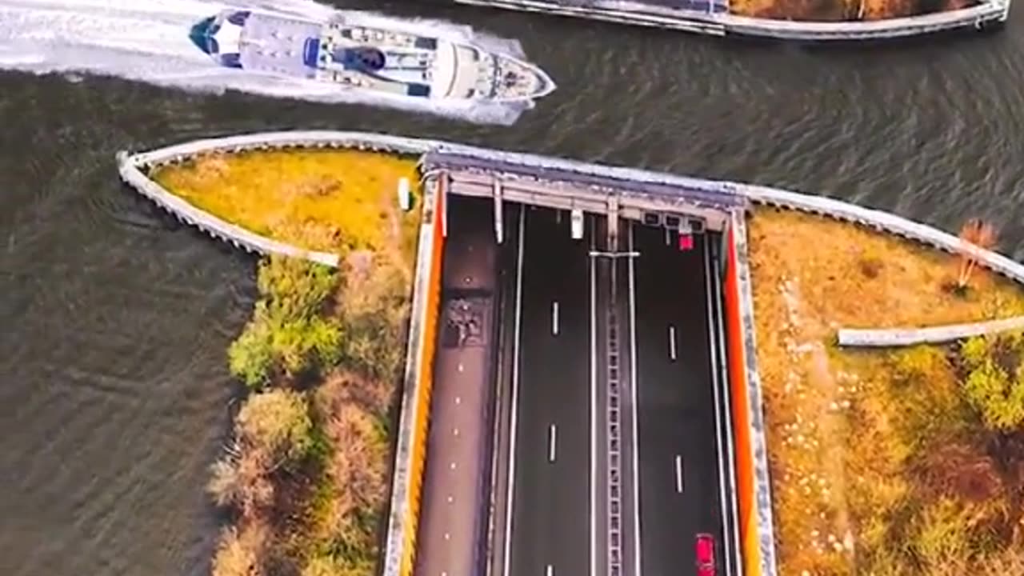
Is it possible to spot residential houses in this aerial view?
No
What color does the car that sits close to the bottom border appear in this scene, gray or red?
red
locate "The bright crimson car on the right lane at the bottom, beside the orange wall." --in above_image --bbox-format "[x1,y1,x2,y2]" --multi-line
[695,531,720,576]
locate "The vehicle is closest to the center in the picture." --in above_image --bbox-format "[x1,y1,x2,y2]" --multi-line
[568,212,584,242]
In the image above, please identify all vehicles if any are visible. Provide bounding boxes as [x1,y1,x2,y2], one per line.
[695,531,720,576]
[568,212,584,242]
[678,225,693,249]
